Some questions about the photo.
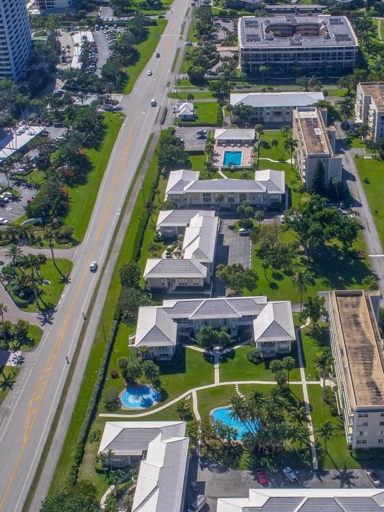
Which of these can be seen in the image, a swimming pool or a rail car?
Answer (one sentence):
There is a swimming pool in the scene.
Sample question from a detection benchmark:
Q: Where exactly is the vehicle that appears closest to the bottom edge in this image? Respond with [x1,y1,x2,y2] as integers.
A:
[186,492,206,512]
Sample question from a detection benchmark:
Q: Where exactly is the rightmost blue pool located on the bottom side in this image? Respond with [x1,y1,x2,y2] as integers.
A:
[209,404,262,442]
